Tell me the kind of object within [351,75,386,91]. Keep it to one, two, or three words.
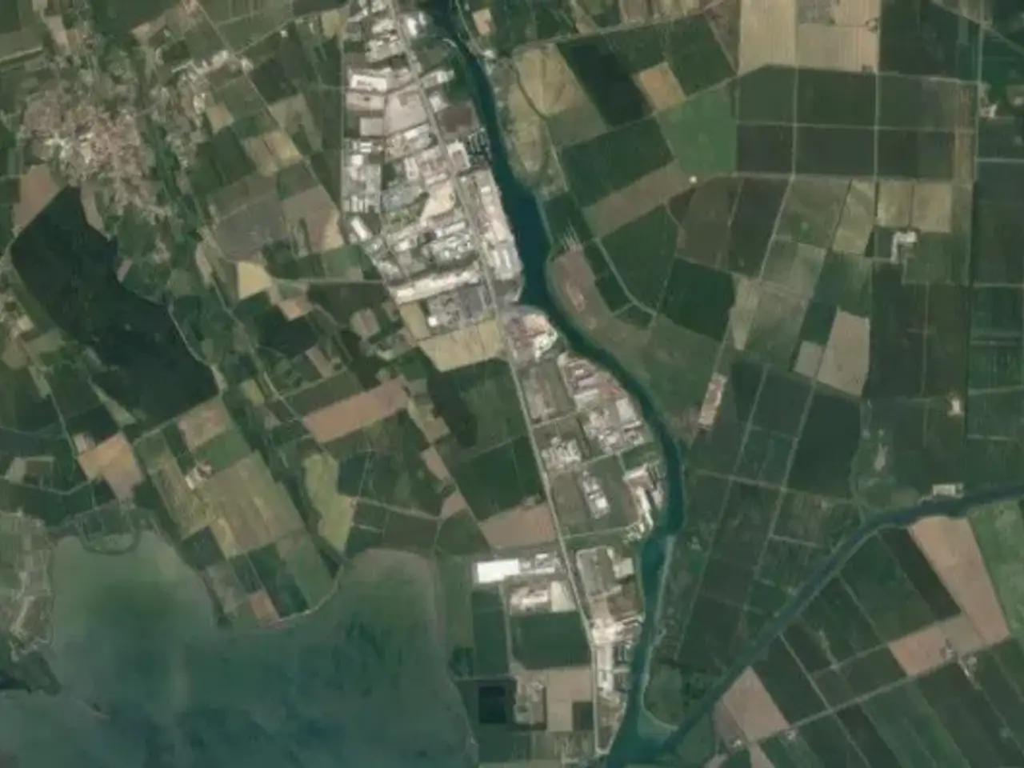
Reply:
building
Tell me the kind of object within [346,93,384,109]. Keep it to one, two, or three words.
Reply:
building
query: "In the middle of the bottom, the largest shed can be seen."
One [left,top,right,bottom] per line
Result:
[477,559,520,583]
